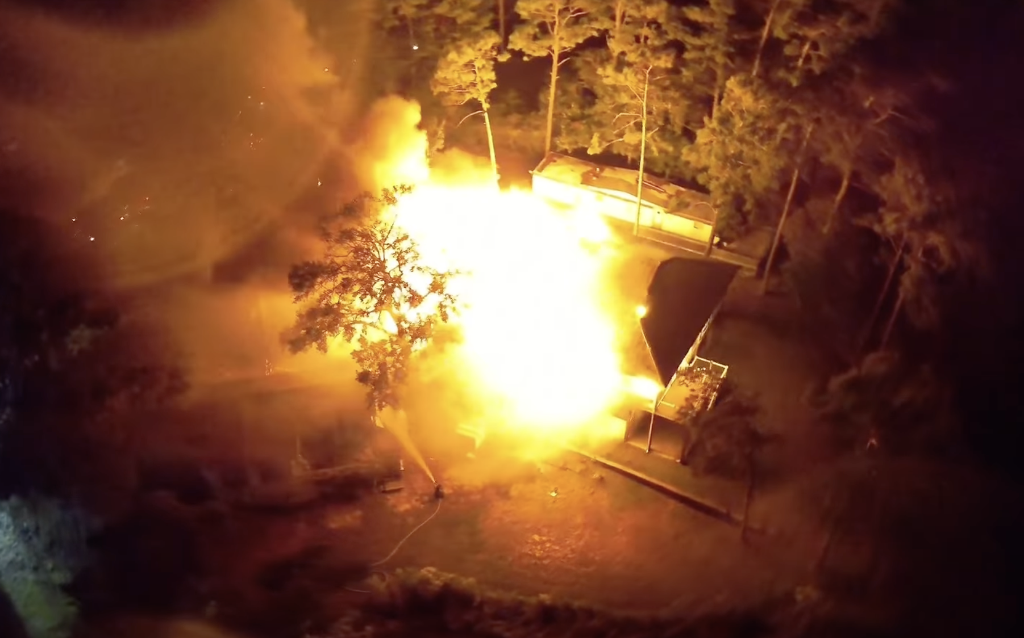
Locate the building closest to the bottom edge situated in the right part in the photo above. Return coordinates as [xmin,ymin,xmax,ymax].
[583,256,742,466]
